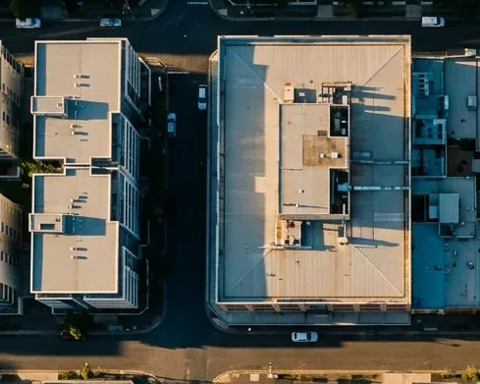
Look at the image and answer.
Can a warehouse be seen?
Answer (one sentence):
Yes, the frame does contain a warehouse.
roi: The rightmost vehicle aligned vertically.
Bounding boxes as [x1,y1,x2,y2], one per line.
[195,83,208,111]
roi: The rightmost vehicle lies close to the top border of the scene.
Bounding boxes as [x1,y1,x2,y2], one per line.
[418,14,448,29]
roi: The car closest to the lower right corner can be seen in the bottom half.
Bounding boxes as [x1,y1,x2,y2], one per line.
[292,331,319,343]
